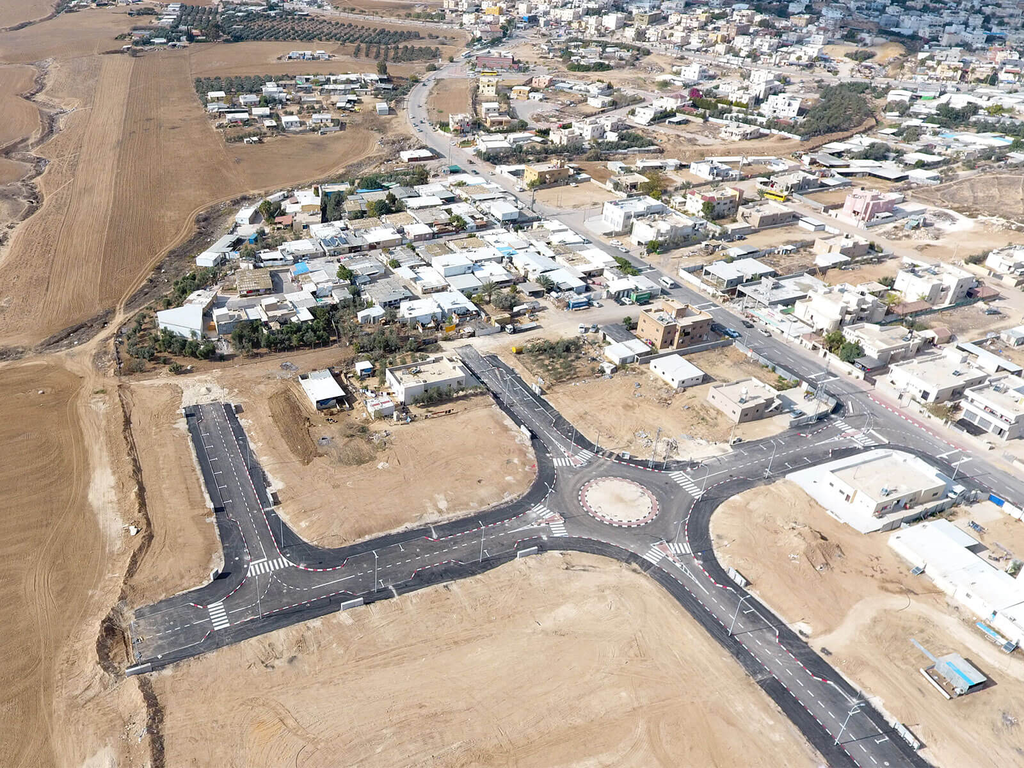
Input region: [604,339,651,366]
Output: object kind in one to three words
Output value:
shed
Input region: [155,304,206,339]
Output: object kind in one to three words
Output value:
barn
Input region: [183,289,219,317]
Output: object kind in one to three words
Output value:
house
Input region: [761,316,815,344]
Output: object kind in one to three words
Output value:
building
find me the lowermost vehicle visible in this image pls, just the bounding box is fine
[947,483,969,497]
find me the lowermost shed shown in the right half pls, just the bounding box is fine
[932,654,987,693]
